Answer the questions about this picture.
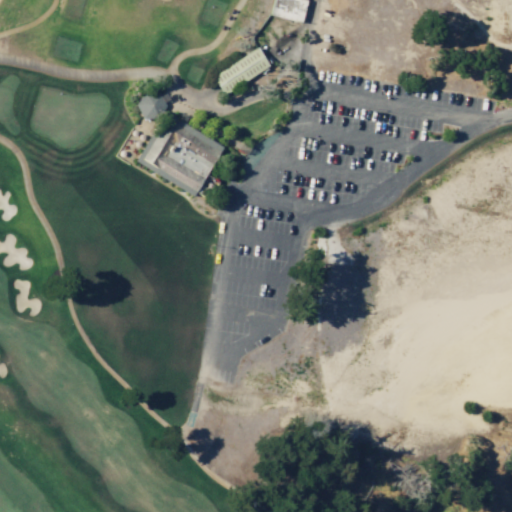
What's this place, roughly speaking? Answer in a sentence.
The picture captures a golf course.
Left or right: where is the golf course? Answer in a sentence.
The golf course appears in the left half of the scene.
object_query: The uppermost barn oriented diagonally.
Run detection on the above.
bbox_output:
[220,48,270,93]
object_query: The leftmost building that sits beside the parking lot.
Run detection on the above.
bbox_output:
[138,122,224,195]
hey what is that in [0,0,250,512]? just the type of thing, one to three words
golf course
